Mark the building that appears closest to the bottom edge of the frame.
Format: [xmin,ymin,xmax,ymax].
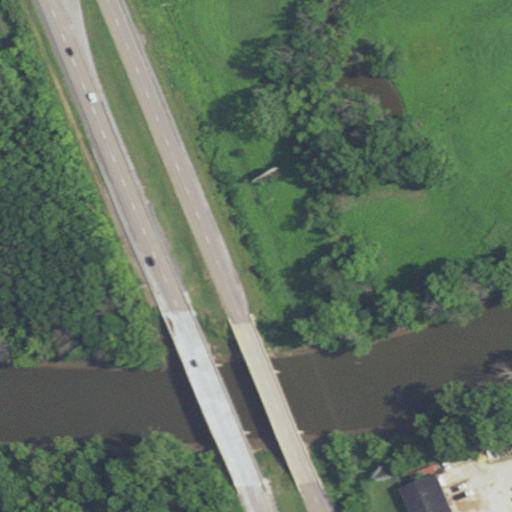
[398,474,450,512]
